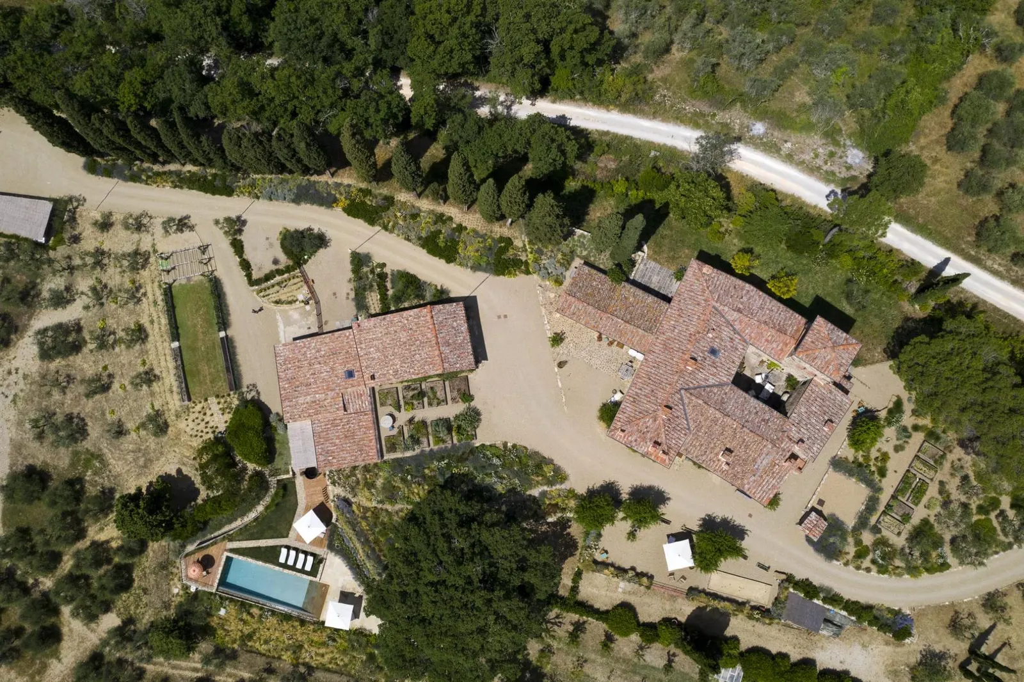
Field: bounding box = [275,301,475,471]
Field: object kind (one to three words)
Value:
shed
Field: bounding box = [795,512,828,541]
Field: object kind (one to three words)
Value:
shed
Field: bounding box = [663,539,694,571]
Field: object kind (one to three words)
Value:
umbrella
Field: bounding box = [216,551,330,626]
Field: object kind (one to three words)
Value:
swimming pool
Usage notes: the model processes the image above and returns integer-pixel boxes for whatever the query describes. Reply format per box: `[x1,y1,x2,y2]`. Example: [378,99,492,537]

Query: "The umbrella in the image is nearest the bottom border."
[325,601,354,630]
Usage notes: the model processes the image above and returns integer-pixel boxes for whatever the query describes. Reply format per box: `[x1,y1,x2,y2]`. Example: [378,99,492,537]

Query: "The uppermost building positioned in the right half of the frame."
[555,259,863,507]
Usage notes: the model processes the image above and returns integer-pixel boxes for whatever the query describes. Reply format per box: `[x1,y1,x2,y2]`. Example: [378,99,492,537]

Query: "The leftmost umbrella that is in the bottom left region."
[184,561,204,581]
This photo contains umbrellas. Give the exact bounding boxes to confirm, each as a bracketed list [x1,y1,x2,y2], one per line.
[663,539,694,571]
[325,601,354,630]
[293,509,326,543]
[184,561,204,581]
